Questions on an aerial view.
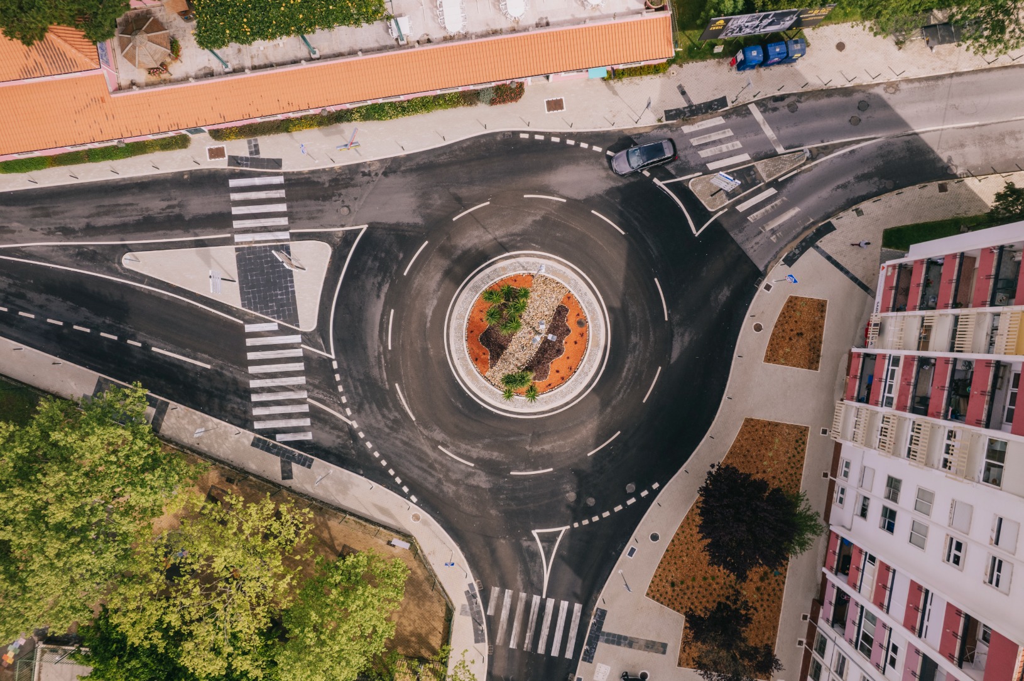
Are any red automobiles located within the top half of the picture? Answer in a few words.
No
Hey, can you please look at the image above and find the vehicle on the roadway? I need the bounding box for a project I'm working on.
[606,135,677,176]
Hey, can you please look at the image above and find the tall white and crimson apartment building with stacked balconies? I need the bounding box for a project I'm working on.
[800,221,1024,681]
